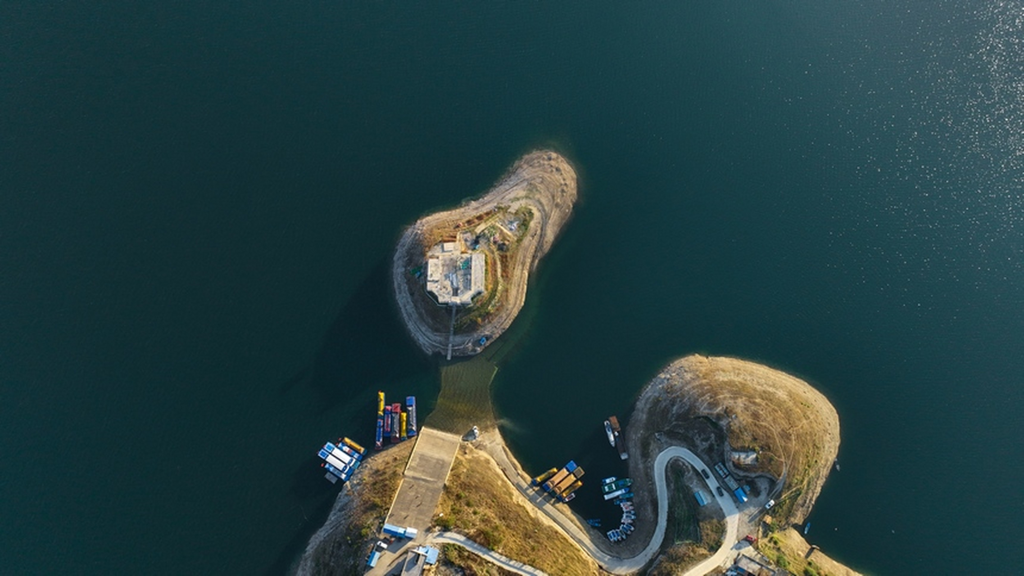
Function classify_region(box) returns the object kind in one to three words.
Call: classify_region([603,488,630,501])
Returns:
boat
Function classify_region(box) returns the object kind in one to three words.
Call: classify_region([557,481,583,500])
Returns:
boat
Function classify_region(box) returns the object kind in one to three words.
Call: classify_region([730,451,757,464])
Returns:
house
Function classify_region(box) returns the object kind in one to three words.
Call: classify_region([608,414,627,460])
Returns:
ship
